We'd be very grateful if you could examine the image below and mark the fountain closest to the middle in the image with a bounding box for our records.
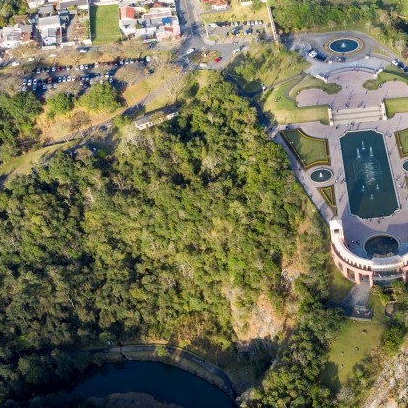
[310,167,331,181]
